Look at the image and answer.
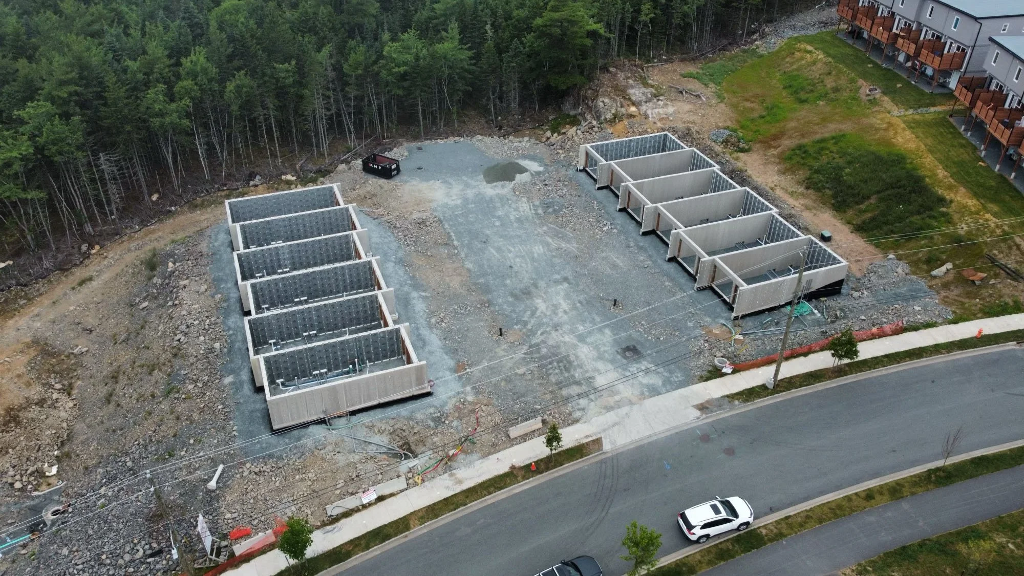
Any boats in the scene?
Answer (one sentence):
No, there isn't any boat down there.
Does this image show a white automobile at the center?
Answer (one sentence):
No, no white automobile is visible at the center.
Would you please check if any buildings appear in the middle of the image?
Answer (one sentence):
No, no building is visible in the middle of the image.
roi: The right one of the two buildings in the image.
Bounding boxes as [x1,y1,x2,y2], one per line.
[937,38,1024,200]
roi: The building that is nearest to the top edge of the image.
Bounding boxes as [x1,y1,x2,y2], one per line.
[834,0,1024,90]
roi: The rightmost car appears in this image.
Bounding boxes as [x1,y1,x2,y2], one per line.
[681,499,755,544]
